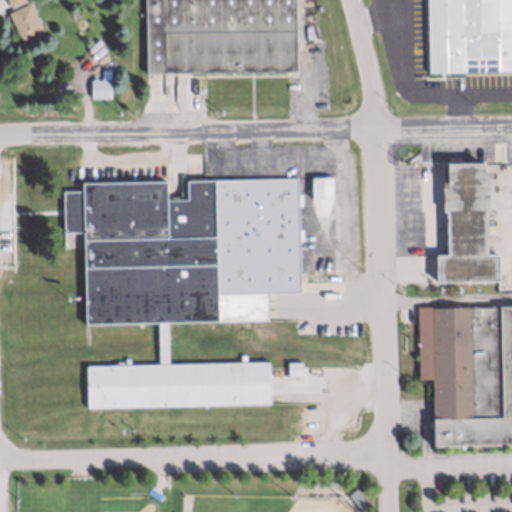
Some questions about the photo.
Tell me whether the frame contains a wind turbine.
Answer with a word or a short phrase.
No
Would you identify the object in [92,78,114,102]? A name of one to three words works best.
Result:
building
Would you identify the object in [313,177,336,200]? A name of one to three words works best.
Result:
shed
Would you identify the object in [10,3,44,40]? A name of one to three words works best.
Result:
house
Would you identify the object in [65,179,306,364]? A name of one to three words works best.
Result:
building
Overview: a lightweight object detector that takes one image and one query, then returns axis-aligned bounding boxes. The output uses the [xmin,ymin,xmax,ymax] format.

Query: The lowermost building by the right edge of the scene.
[419,306,512,446]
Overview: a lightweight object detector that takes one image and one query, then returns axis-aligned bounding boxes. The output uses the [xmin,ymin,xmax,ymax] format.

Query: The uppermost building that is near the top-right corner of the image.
[426,0,512,81]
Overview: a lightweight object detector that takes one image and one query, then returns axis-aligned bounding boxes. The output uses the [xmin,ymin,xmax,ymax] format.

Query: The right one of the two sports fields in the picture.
[169,470,377,512]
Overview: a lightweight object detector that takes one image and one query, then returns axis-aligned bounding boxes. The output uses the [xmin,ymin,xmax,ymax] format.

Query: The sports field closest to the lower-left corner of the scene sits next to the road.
[12,472,184,512]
